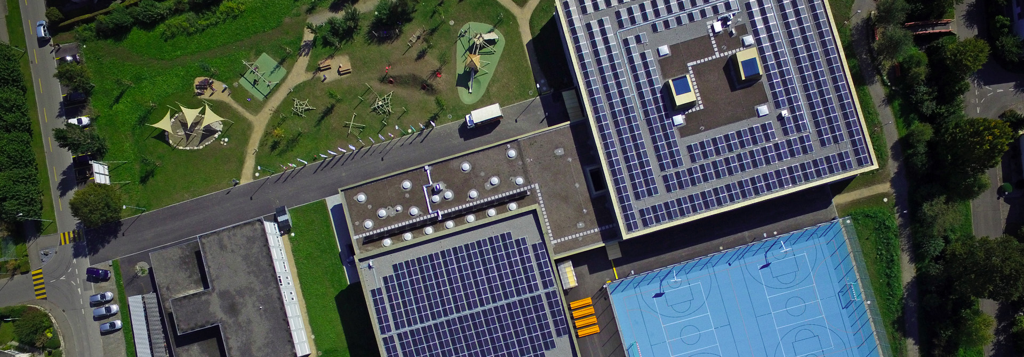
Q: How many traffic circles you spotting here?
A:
zero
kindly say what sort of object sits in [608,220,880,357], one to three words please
sports court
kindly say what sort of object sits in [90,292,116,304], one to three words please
vehicle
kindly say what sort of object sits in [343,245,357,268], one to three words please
car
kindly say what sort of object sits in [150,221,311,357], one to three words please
building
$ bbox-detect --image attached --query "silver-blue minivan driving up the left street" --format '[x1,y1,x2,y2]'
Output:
[36,20,52,42]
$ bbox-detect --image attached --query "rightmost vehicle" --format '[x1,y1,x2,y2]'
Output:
[464,103,505,129]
